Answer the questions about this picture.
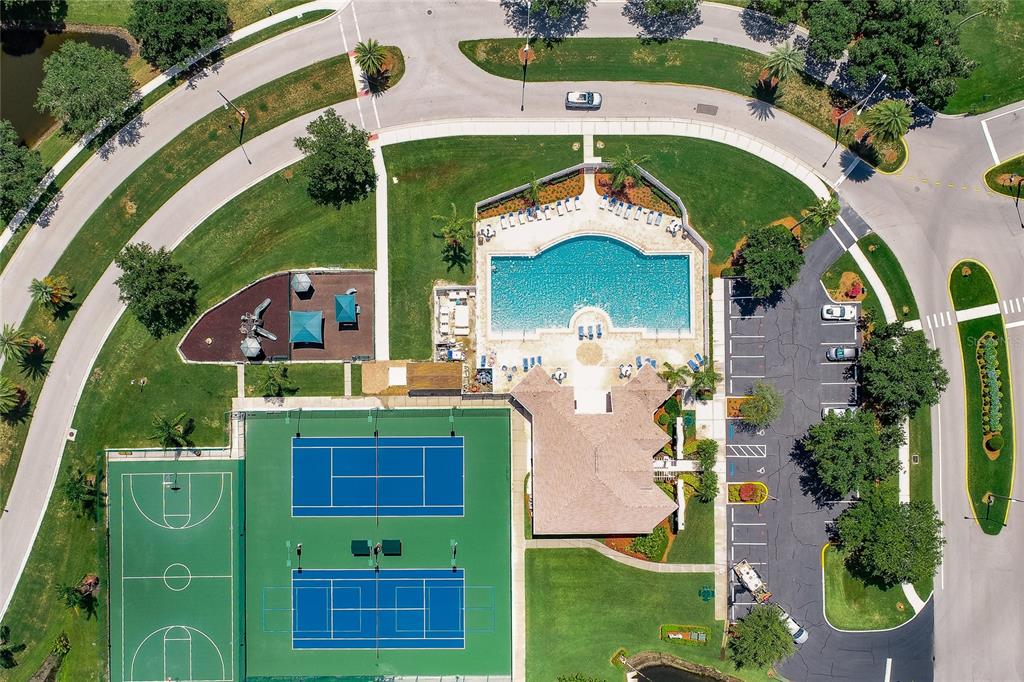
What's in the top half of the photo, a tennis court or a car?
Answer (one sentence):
Visible in the top half of the photo is a car.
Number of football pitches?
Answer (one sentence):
There are no football pitches in this view.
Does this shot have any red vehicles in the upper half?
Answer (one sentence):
No, looking in the upper half, there is no red vehicle.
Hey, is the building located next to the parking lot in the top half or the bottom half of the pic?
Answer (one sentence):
The bottom half of the photo is where the building located next to the parking lot is.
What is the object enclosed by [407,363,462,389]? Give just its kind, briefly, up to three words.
shed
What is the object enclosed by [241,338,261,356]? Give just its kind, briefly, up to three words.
umbrella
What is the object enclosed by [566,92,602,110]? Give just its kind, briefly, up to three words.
car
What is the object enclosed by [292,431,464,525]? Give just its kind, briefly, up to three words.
tennis court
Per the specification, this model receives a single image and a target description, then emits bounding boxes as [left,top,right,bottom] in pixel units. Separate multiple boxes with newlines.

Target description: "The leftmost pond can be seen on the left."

[0,35,131,171]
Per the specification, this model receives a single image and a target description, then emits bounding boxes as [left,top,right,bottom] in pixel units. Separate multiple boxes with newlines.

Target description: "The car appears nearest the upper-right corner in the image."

[822,304,857,321]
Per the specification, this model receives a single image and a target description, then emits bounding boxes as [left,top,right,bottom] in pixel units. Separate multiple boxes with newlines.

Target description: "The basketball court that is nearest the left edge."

[108,459,244,682]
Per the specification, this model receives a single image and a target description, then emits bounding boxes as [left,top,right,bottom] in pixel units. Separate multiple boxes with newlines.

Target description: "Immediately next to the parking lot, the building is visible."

[508,363,678,536]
